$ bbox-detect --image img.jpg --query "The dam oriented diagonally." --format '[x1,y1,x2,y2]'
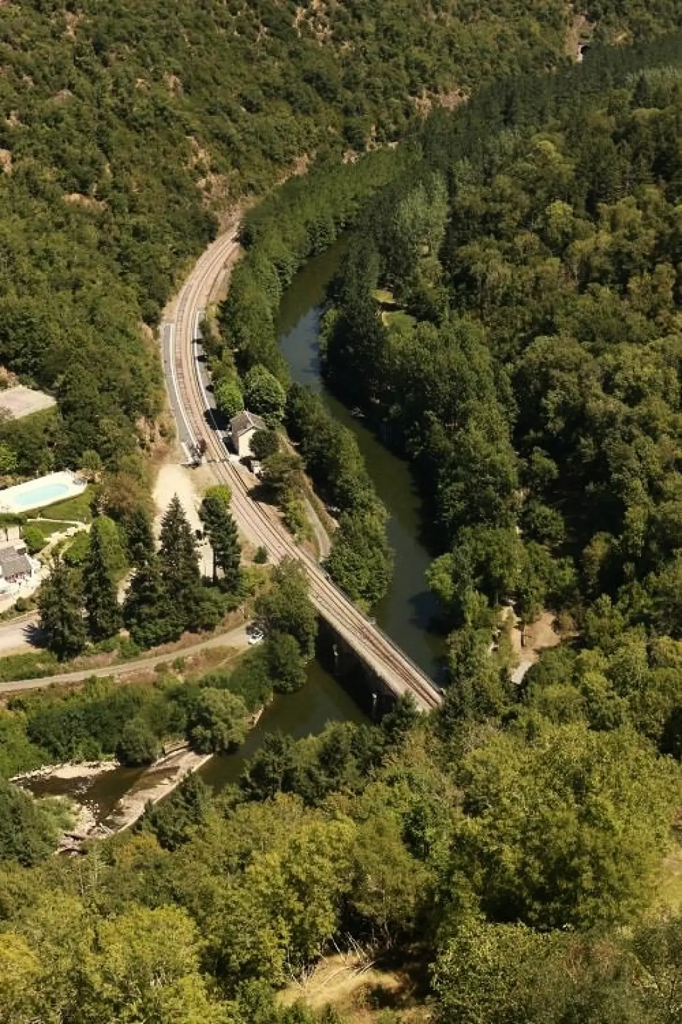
[117,751,215,837]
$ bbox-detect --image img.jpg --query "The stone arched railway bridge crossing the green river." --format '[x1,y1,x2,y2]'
[286,568,449,705]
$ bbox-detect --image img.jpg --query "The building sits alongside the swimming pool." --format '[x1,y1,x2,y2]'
[0,529,30,581]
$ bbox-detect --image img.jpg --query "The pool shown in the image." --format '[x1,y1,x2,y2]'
[0,471,87,514]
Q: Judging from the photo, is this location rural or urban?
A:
rural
